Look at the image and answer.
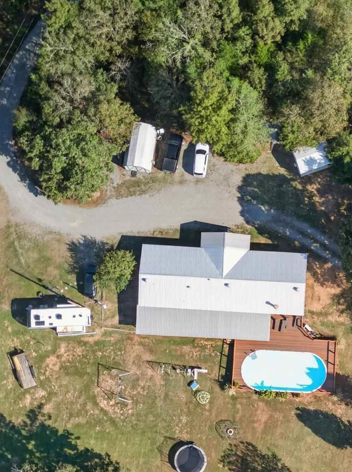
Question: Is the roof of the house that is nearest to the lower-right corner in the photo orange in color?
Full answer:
No, the roof of the house that is nearest to the lower-right corner is white.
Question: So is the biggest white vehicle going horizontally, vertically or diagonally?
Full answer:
I'd say the biggest white vehicle is aligned horizontally in the picture.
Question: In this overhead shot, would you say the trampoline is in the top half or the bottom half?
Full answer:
The bottom half of the photo is where the trampoline is.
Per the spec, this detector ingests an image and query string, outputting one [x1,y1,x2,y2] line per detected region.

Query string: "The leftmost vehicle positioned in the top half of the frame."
[161,132,183,176]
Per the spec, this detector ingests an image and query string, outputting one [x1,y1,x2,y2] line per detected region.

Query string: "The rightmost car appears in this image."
[193,143,210,179]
